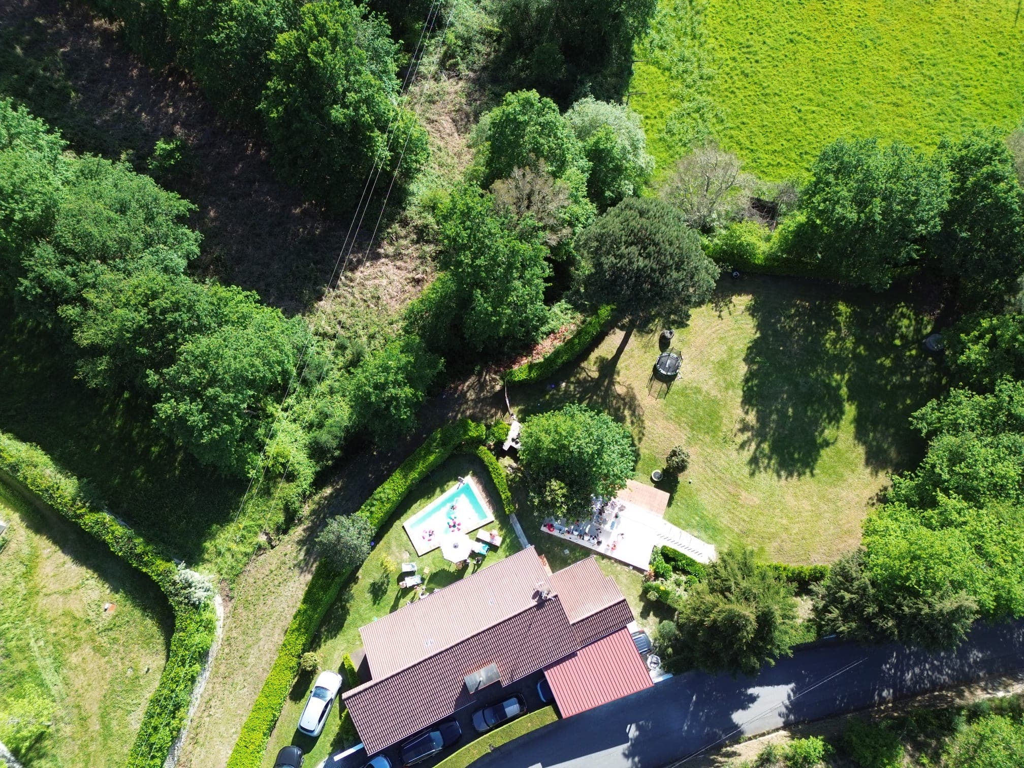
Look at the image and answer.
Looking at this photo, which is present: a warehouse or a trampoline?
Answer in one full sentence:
The one in the frame is a trampoline.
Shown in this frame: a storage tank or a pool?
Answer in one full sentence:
The image shows a pool.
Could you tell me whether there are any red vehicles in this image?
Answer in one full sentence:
No, the photo shows no red vehicle.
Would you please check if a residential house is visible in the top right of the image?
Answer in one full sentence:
No, I can find no residential house in the top right of the image.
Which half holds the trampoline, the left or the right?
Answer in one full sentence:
The trampoline appears in the right half of the scene.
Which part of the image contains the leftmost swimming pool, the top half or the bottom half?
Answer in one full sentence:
You can find the leftmost swimming pool in the bottom half.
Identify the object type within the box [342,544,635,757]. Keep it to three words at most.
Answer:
house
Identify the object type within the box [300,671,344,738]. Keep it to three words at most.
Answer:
car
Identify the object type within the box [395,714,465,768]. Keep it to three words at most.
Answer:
car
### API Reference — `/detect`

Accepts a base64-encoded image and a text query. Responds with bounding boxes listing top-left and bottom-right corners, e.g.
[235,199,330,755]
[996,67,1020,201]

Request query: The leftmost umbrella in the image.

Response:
[440,532,473,565]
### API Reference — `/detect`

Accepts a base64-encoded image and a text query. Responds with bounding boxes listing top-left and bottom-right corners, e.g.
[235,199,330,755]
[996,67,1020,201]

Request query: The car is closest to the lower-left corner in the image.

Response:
[269,746,306,768]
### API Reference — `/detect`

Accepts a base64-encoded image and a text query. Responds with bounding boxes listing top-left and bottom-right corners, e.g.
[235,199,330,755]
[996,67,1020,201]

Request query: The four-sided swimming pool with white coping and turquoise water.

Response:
[404,477,494,555]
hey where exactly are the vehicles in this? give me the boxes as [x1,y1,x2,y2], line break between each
[300,671,344,738]
[535,675,555,703]
[341,748,394,768]
[630,629,656,659]
[471,690,530,734]
[395,714,465,768]
[269,746,306,768]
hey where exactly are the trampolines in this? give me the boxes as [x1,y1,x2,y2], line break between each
[653,339,687,381]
